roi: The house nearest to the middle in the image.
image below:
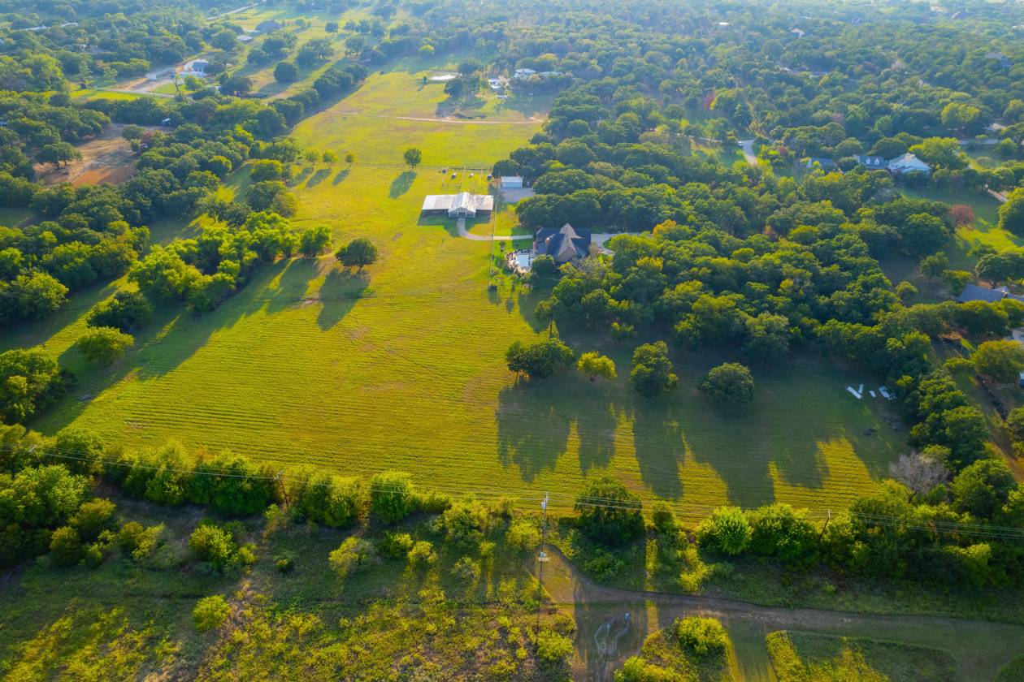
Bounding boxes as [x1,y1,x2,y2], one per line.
[526,218,595,264]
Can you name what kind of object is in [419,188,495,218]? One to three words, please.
barn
